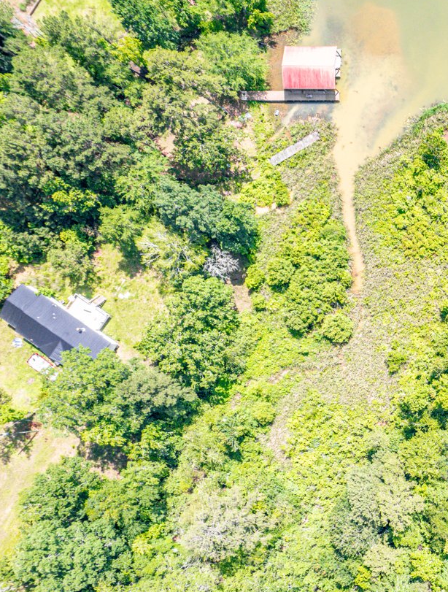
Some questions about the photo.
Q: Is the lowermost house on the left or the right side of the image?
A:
left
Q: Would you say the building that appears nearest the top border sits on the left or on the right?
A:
right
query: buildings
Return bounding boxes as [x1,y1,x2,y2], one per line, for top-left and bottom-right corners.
[1,284,119,372]
[280,46,345,99]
